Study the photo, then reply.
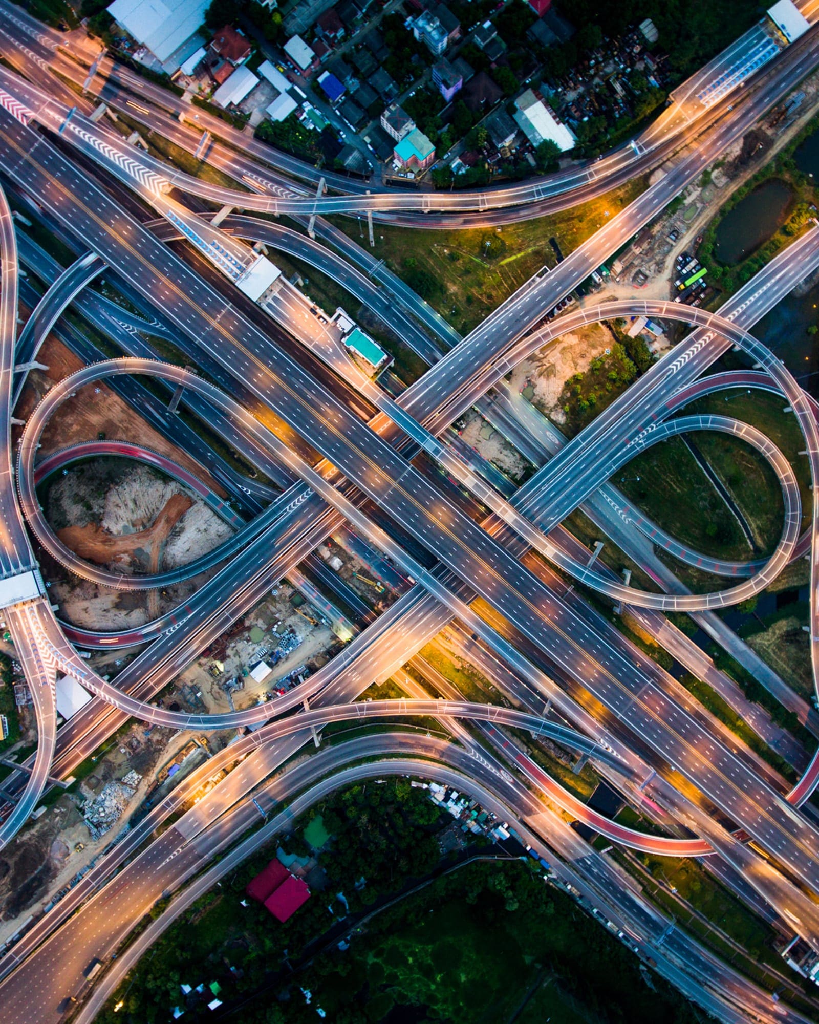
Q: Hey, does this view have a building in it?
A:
Yes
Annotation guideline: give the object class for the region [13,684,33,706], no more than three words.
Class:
house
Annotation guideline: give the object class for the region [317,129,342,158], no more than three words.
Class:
house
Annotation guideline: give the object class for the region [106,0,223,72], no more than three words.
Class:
building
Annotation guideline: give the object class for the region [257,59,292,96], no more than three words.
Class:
shed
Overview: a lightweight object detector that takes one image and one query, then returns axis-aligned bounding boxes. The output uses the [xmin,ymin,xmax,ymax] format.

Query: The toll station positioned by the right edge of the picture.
[755,0,811,53]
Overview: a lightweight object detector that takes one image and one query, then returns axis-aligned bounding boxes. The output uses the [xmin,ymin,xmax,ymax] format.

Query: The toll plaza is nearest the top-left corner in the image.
[233,252,289,311]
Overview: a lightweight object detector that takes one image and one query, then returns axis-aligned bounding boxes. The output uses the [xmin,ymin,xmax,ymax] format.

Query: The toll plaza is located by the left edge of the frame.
[0,563,46,614]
